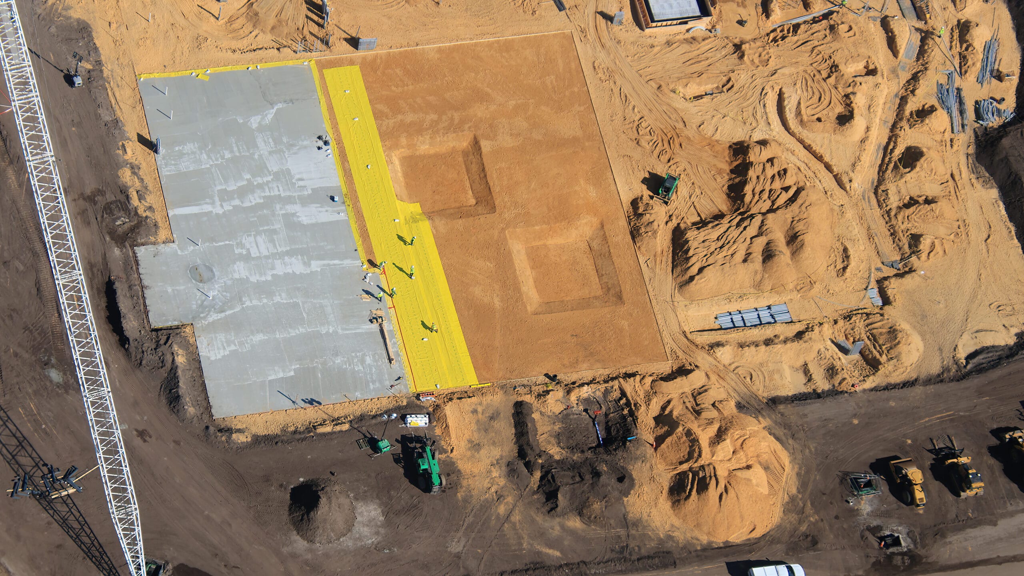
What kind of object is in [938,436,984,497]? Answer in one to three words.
work vehicle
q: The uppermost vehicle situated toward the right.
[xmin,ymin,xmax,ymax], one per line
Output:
[649,163,682,209]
